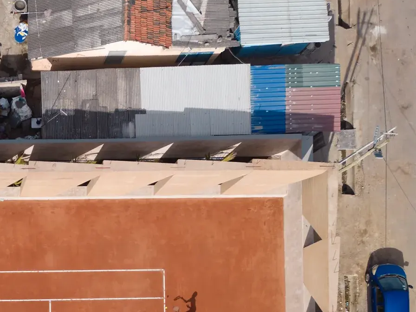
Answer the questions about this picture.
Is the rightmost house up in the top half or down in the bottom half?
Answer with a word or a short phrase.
top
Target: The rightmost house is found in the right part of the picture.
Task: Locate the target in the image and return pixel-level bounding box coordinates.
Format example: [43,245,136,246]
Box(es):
[279,65,341,145]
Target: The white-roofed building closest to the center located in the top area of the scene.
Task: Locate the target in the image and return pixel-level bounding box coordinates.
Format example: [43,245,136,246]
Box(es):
[141,67,252,137]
